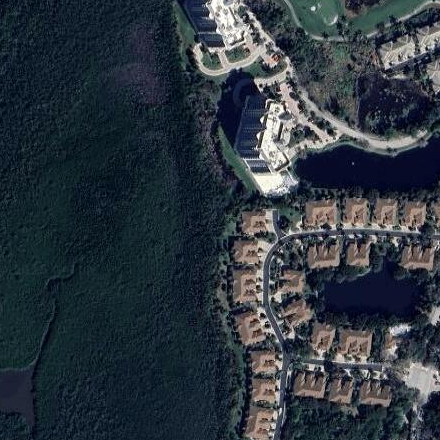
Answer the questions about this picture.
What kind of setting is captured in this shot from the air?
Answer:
residential area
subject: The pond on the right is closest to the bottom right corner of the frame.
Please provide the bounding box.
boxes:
[318,259,423,319]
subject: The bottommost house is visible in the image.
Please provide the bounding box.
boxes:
[242,406,274,440]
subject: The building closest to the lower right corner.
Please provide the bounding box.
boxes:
[357,380,392,409]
